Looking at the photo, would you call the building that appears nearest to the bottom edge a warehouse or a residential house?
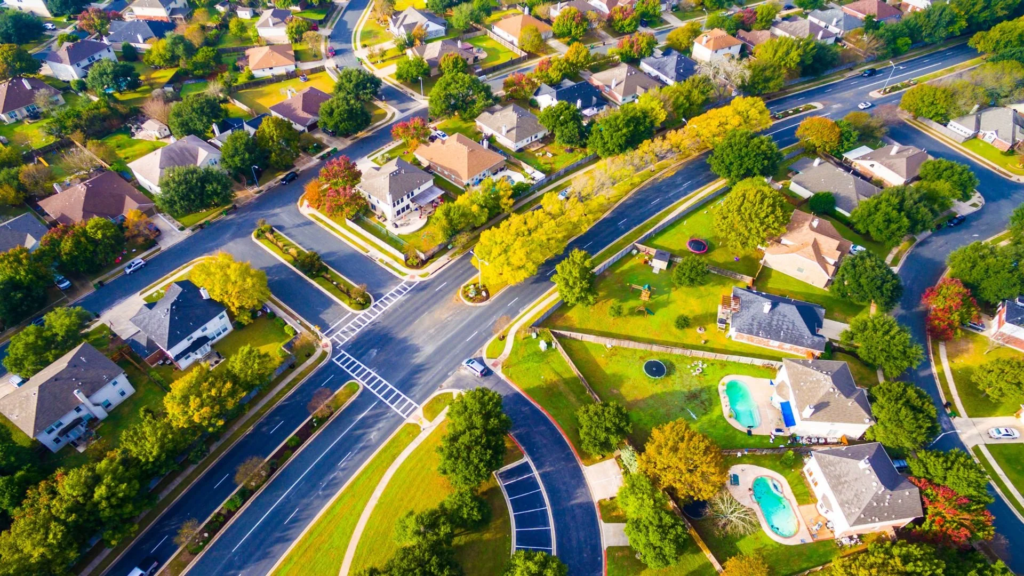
residential house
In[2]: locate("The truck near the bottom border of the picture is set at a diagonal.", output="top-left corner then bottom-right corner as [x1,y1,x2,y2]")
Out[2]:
[124,550,158,576]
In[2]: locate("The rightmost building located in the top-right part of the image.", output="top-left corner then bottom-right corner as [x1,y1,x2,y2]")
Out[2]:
[948,106,1024,154]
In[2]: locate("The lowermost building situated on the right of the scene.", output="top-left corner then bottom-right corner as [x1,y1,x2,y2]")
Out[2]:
[805,442,924,539]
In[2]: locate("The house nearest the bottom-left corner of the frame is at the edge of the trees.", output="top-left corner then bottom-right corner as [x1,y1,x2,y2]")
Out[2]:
[0,344,133,456]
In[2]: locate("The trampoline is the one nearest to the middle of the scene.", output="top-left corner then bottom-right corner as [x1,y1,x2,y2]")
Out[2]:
[643,358,666,378]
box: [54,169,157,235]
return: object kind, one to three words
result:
house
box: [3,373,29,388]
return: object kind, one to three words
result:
car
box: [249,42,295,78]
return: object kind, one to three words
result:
house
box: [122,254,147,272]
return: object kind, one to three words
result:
car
